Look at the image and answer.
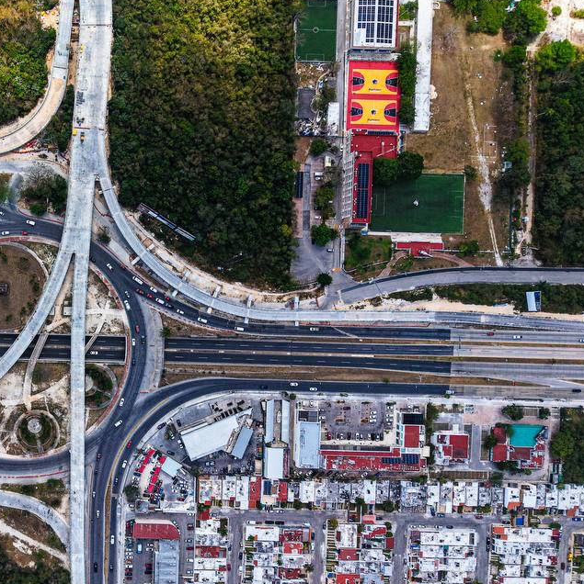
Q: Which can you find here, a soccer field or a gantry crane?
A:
soccer field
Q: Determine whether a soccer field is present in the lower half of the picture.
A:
No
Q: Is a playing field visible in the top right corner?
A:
Yes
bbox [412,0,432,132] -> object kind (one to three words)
building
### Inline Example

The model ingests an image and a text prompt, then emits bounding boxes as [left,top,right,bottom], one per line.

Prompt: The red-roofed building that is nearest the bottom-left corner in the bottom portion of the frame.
[132,522,179,539]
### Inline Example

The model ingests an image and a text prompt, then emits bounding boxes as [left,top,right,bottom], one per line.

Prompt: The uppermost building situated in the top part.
[349,0,397,51]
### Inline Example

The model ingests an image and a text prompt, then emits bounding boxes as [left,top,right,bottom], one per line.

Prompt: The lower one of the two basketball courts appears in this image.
[351,99,399,124]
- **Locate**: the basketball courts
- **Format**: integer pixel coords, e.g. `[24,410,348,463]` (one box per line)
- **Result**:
[351,99,399,124]
[352,69,400,94]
